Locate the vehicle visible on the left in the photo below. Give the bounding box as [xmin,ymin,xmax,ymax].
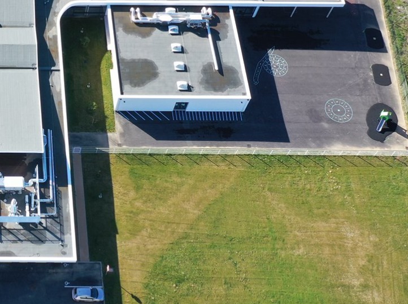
[72,286,103,304]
